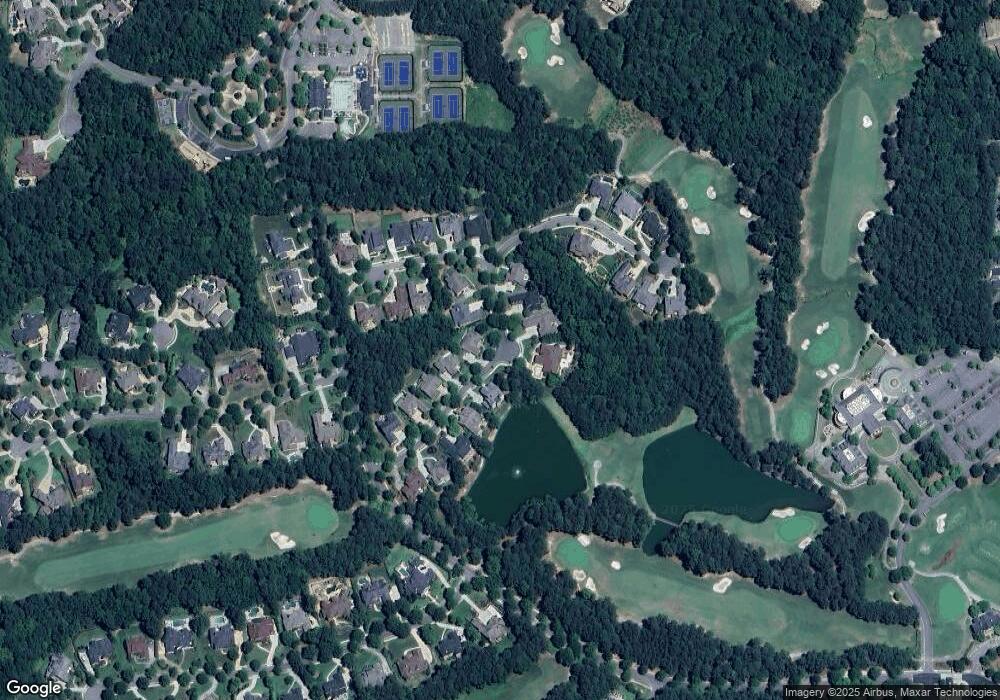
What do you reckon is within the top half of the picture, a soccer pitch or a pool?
pool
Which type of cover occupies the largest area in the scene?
trees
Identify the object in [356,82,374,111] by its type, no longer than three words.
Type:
building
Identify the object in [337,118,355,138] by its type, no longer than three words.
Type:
swimming pool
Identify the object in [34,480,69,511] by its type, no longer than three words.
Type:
house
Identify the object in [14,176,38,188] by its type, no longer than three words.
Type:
swimming pool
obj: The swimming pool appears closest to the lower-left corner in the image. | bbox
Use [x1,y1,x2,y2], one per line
[163,615,193,629]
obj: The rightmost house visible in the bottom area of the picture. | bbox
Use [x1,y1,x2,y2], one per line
[967,608,1000,643]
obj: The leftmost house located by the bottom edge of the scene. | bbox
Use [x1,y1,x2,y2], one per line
[45,654,74,681]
